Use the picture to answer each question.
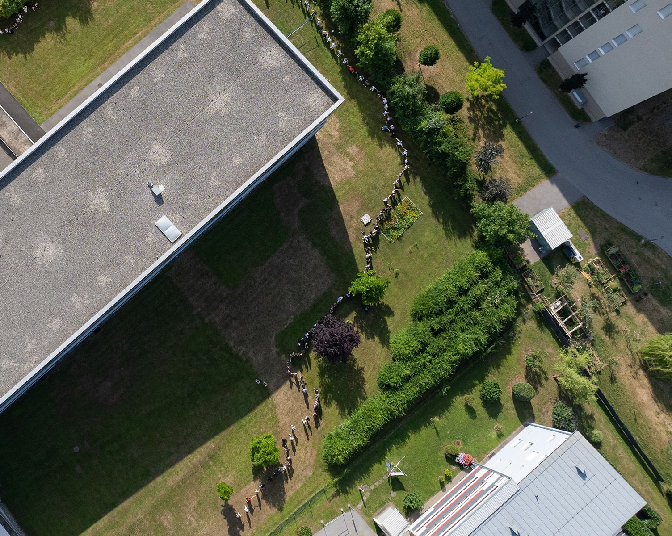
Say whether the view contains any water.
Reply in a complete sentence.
No, the picture contains no water.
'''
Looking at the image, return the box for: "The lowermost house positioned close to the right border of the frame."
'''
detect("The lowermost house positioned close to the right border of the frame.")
[479,419,647,536]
